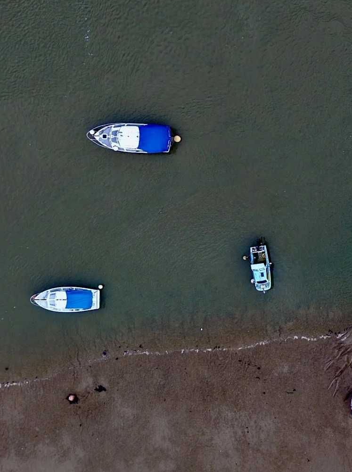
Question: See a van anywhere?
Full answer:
No, the picture doesn't show any van.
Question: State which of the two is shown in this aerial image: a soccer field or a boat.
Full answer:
I can see a boat in this picture.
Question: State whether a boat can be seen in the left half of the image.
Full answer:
Yes, a boat shows up in the left half of the image.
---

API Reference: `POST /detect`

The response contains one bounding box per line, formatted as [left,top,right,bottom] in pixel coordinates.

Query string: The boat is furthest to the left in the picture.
[30,287,102,313]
